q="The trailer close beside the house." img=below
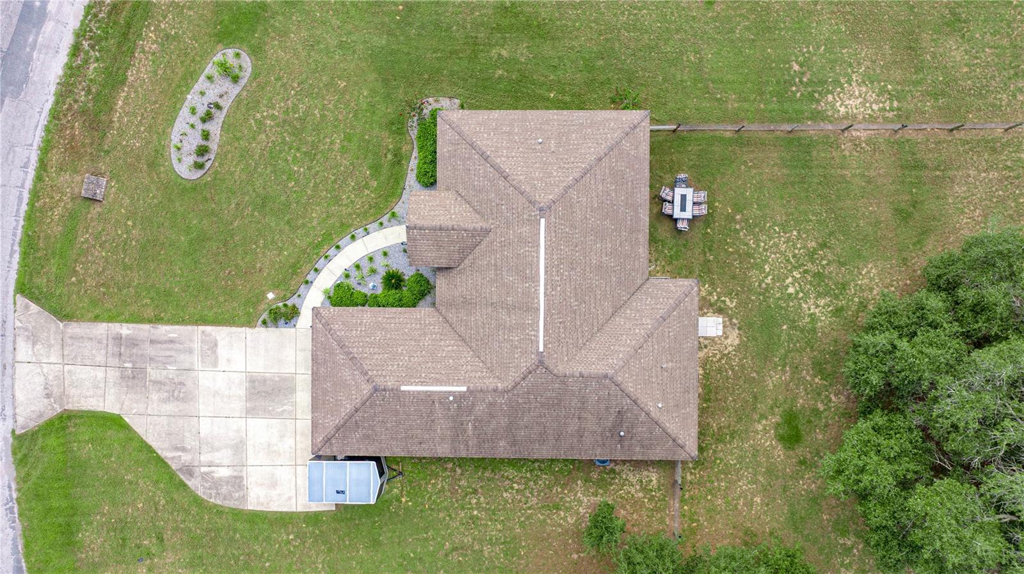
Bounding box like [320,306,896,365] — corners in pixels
[307,455,404,504]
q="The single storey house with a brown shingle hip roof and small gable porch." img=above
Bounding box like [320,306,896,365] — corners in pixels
[311,109,699,461]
